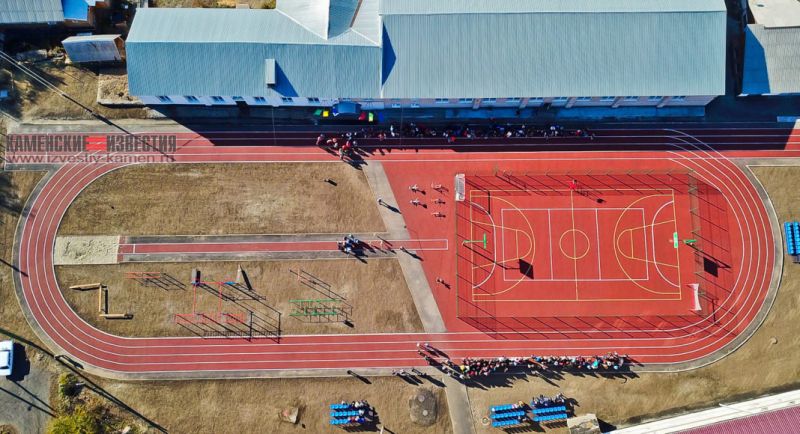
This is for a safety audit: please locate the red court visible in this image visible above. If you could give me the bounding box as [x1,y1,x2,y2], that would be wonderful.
[455,174,699,317]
